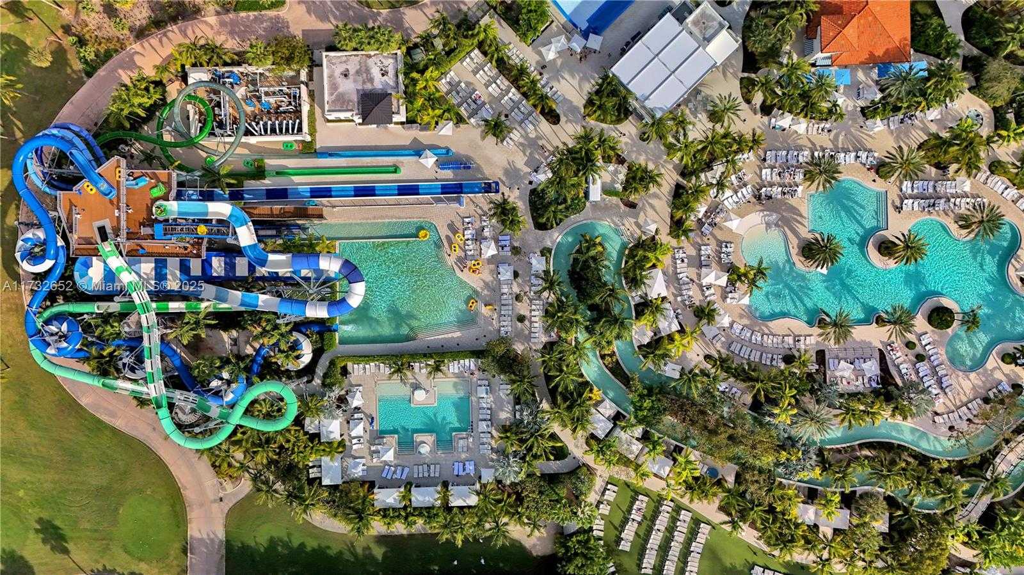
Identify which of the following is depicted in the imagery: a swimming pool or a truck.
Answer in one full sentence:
This aerial view contains a swimming pool.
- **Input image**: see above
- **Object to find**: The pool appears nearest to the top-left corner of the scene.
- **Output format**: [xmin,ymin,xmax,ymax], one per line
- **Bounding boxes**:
[304,221,480,344]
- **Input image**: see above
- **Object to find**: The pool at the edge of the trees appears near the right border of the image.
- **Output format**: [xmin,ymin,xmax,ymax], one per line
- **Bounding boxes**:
[741,178,1024,371]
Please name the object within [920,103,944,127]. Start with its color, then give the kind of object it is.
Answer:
white umbrella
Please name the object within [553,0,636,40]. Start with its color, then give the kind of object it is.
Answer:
blue swimming pool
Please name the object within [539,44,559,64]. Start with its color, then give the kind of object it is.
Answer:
white umbrella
